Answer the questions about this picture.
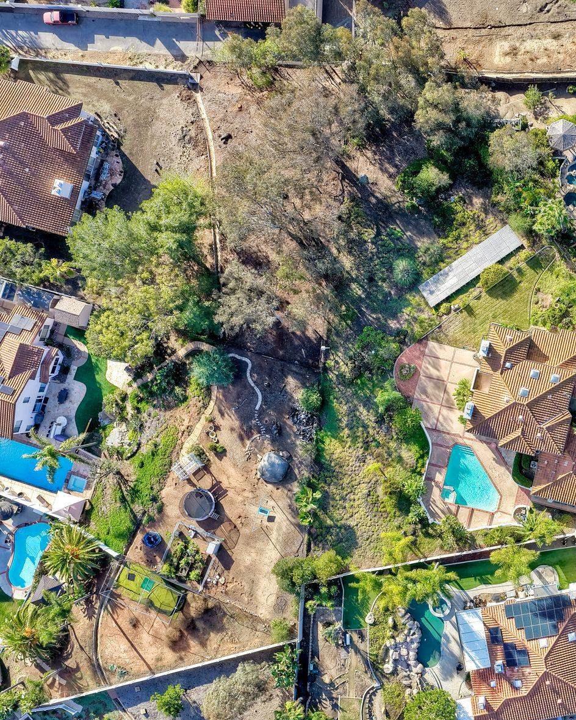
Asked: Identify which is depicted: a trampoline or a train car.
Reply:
trampoline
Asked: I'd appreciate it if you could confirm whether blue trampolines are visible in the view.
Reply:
Yes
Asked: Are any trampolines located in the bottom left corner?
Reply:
Yes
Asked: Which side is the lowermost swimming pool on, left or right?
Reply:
right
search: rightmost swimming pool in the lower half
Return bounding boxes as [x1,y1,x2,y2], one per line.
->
[438,442,503,515]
